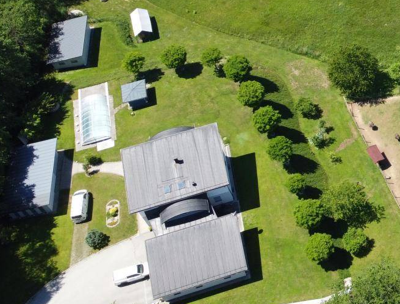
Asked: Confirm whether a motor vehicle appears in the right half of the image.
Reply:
No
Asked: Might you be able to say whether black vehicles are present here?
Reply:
No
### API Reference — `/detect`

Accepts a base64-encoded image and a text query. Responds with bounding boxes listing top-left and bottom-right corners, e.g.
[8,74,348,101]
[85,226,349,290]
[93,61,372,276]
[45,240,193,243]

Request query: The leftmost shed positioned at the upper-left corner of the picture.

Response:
[48,16,90,72]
